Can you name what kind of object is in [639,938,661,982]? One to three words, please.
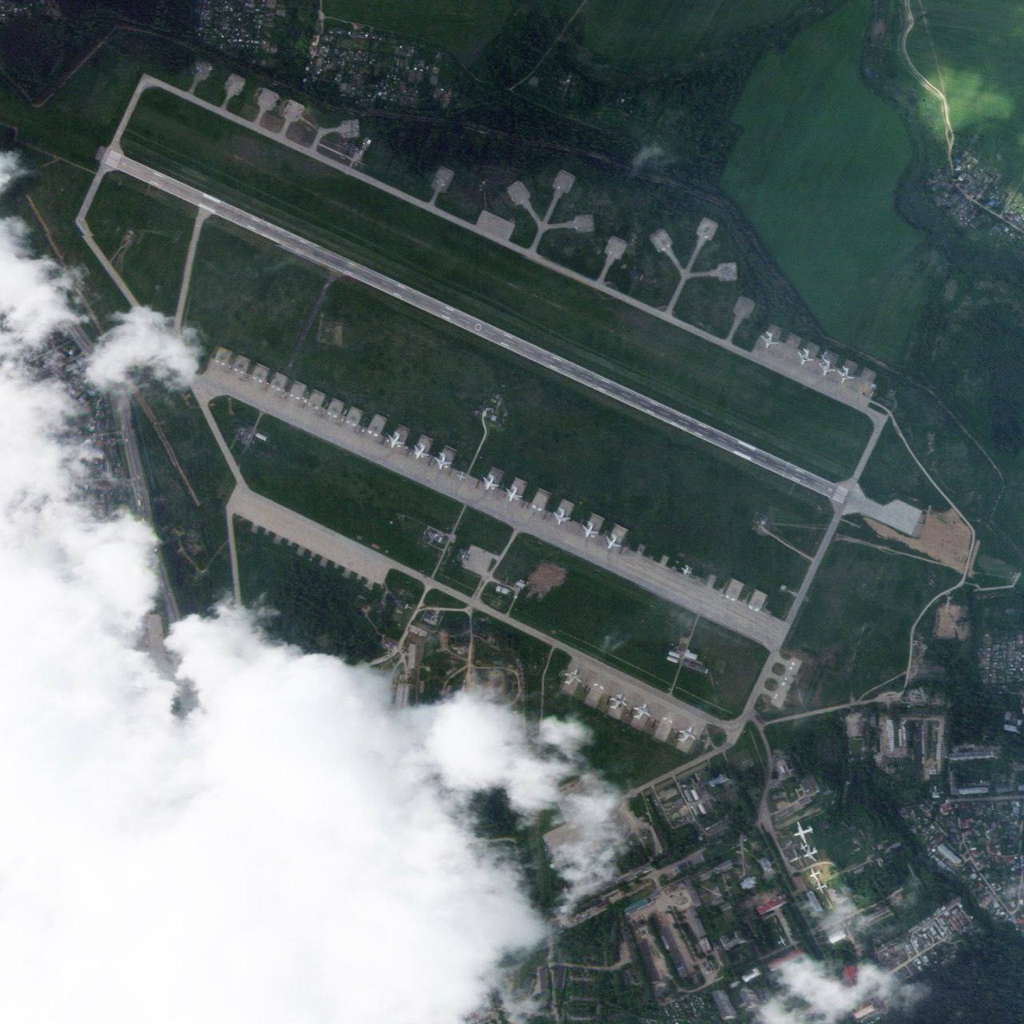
building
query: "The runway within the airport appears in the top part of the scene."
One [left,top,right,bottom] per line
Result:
[104,150,851,504]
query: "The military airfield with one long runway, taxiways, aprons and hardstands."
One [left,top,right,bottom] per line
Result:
[79,64,928,752]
